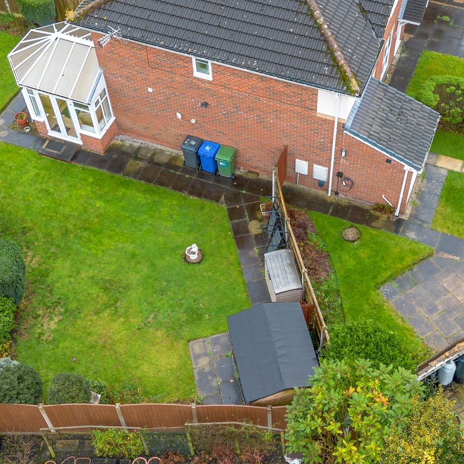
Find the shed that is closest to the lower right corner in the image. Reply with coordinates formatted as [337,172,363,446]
[227,302,319,406]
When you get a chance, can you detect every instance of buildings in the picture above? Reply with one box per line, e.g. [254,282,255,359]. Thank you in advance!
[66,0,446,218]
[227,302,319,406]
